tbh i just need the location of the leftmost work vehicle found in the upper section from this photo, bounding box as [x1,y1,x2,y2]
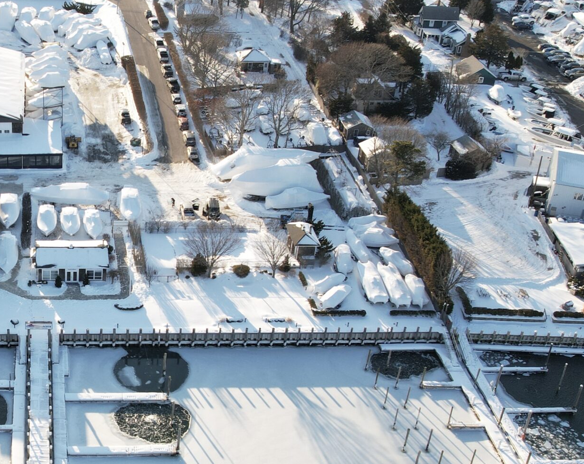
[63,132,81,150]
